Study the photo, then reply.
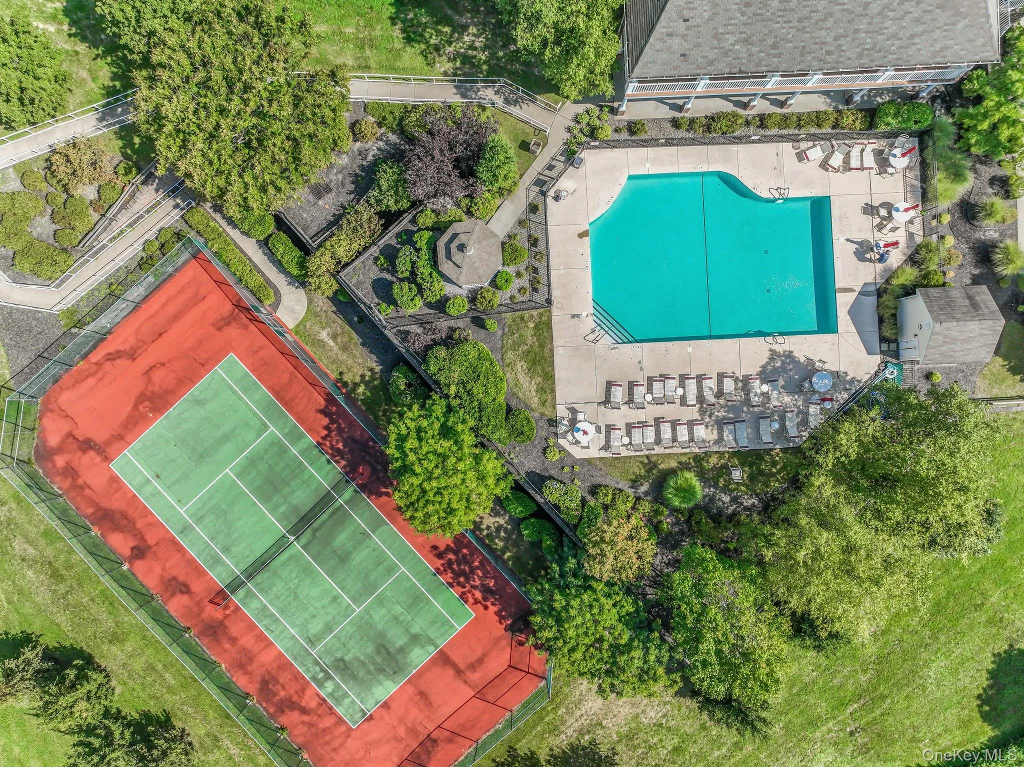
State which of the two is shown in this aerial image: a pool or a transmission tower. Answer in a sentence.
Visible in the photo is a pool.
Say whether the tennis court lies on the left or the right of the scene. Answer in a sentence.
The tennis court sits on the left side.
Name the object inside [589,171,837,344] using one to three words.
swimming pool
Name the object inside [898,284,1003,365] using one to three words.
shed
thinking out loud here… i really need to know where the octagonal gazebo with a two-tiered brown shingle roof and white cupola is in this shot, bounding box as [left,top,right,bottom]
[437,221,502,289]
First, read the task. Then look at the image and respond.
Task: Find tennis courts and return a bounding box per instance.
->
[31,252,548,767]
